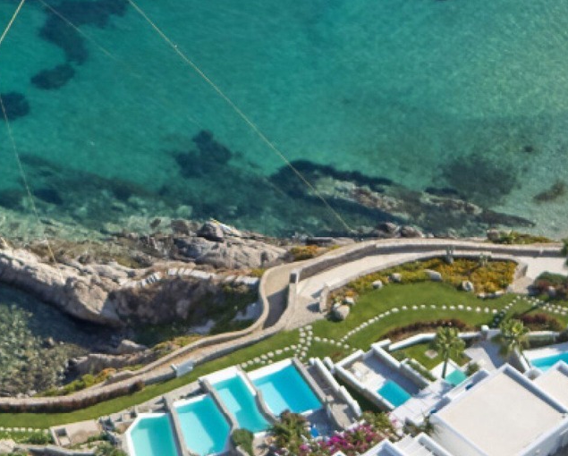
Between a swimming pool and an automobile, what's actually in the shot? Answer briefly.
swimming pool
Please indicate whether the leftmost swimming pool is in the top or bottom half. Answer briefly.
bottom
